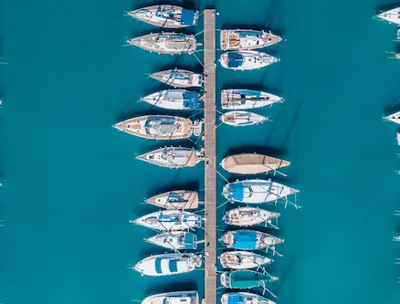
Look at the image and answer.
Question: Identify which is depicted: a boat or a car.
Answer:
boat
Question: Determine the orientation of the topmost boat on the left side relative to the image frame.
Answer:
from side to side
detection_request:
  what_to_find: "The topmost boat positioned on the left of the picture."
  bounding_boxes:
[118,3,202,30]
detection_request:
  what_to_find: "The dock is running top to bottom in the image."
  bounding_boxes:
[203,9,216,304]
